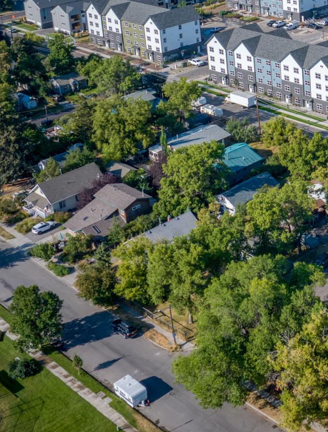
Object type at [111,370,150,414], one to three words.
trailer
